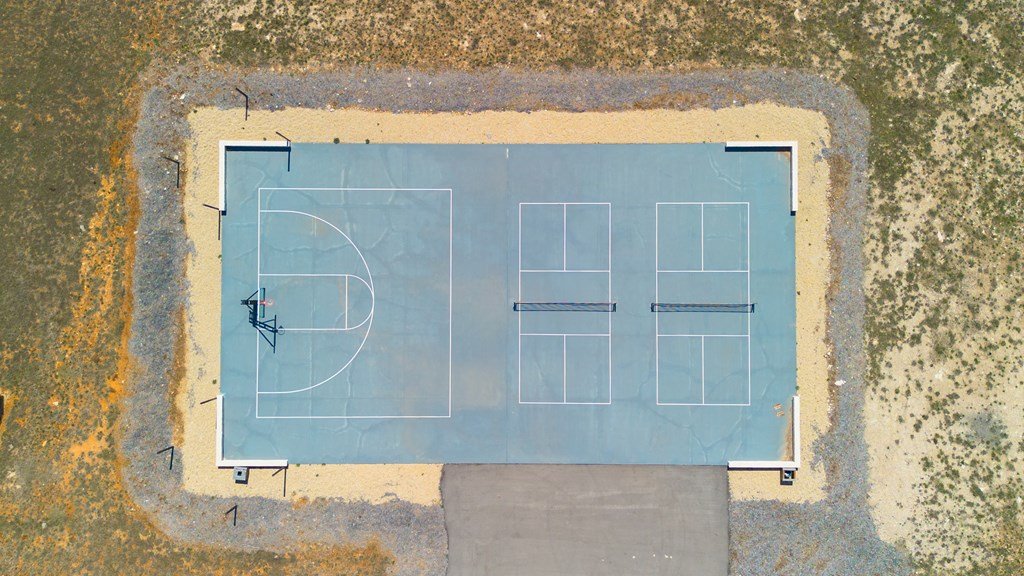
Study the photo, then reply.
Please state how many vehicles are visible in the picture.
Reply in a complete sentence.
There are no vehicles in this view.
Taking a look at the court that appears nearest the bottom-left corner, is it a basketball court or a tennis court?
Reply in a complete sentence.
I'd identify the court that appears nearest the bottom-left corner as a basketball court.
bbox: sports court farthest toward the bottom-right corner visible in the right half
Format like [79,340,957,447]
[656,203,750,405]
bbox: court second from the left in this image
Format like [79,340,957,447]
[519,203,610,404]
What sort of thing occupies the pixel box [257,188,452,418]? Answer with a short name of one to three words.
basketball court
